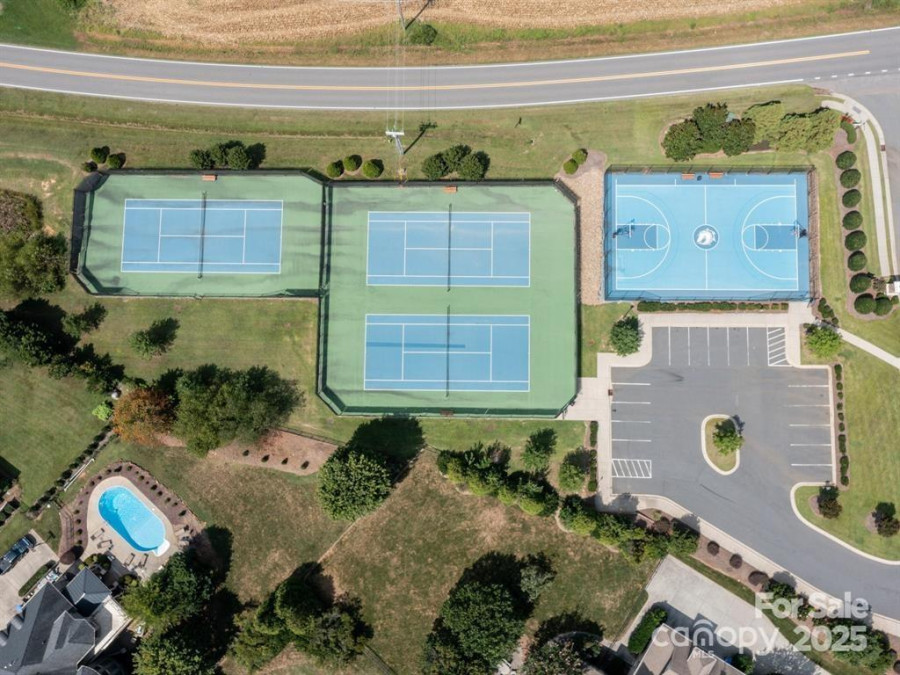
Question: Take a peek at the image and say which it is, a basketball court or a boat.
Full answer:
It is a basketball court that can be seen here.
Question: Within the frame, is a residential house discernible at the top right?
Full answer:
No, no residential house appears at the top right.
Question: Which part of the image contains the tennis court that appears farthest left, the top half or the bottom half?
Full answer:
You can find the tennis court that appears farthest left in the top half.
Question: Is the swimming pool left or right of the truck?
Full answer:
Compared with the truck, the swimming pool is located further to the right.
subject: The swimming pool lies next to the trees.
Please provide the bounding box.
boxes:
[80,476,193,584]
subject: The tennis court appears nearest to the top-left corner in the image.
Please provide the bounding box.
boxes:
[80,175,322,296]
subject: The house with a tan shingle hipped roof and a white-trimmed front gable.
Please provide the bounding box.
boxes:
[621,623,748,675]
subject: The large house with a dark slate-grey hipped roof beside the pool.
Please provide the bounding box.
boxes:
[0,562,126,675]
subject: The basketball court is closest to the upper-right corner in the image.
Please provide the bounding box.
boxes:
[604,172,809,301]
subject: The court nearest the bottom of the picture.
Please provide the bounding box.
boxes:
[323,300,577,417]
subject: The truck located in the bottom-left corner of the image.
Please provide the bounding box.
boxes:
[0,537,34,578]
